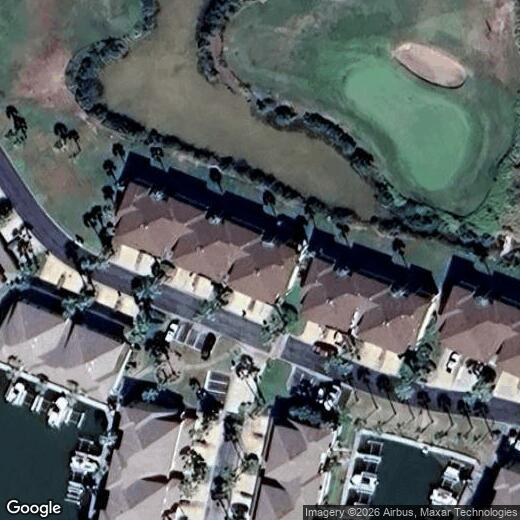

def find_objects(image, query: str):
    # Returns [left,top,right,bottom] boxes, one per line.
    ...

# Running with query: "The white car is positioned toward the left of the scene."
[165,322,178,341]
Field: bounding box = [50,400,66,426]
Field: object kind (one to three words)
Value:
boat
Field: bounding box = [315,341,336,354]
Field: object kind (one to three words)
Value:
vehicle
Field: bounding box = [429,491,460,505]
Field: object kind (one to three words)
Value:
boat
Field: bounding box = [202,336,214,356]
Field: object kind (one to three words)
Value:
vehicle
